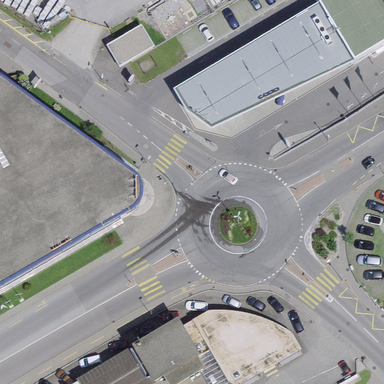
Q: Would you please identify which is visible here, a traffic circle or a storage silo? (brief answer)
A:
traffic circle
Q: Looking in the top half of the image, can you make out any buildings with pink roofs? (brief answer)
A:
No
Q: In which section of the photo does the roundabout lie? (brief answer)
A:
center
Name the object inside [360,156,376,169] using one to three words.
vehicle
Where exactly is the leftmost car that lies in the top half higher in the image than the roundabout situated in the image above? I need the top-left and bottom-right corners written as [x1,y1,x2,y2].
[198,23,213,42]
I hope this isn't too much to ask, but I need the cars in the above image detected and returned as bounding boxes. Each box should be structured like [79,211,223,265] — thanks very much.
[264,0,274,6]
[362,212,383,226]
[360,156,376,169]
[286,310,304,333]
[198,23,213,42]
[374,190,384,202]
[245,294,266,312]
[354,224,376,236]
[52,365,70,384]
[218,170,238,186]
[159,309,180,323]
[356,255,381,266]
[266,294,284,314]
[221,7,238,30]
[105,338,129,352]
[353,240,374,250]
[364,198,384,214]
[248,0,260,10]
[362,270,384,280]
[185,300,208,310]
[221,293,242,309]
[337,358,352,377]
